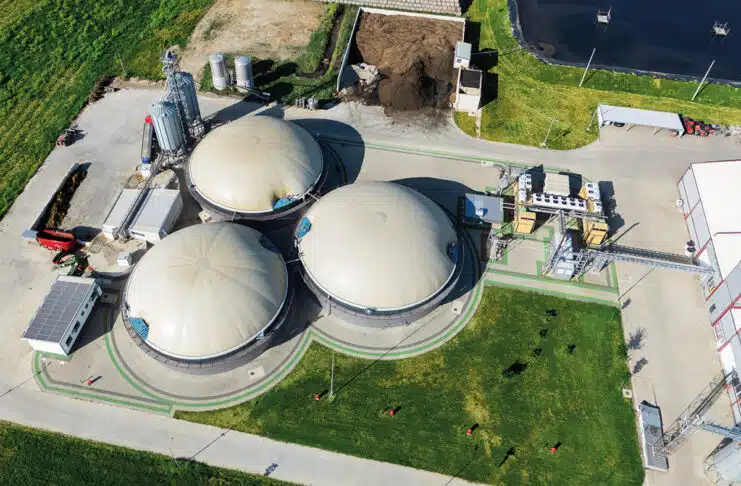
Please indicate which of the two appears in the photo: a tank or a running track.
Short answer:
tank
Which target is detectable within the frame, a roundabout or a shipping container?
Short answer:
shipping container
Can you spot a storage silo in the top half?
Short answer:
Yes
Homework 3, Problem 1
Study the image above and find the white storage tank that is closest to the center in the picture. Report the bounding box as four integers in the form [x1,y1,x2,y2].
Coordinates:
[299,181,460,328]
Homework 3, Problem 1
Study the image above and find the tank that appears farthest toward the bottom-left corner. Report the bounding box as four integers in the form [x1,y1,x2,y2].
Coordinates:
[123,221,288,375]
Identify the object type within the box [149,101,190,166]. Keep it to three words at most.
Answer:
silo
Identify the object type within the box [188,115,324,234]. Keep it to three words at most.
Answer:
storage tank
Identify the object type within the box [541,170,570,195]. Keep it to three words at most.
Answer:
shed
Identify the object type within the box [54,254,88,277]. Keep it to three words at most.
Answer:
work vehicle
